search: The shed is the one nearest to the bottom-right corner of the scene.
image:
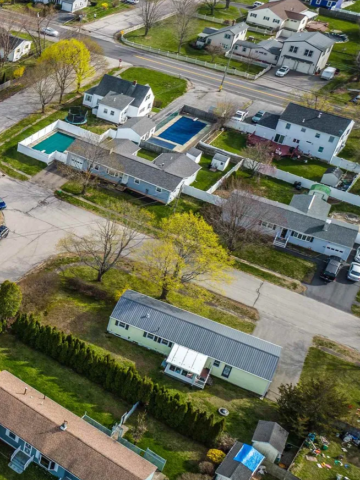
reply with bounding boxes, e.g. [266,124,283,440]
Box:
[251,421,288,465]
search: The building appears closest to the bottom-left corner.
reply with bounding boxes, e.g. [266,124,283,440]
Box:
[0,370,159,480]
